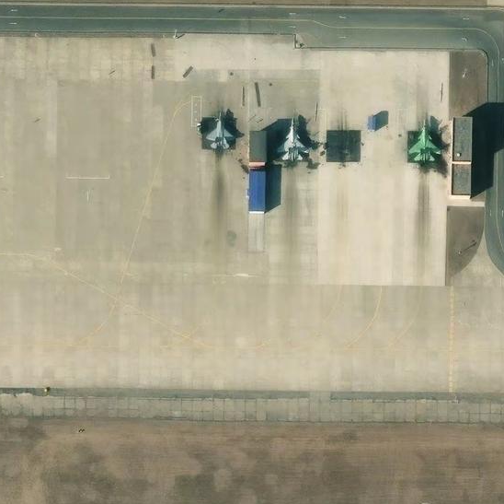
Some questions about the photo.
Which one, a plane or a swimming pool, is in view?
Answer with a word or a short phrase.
plane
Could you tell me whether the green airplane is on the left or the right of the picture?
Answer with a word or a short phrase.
right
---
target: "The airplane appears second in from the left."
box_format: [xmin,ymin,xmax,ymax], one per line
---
[278,119,310,161]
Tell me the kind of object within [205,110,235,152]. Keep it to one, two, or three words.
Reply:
airplane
